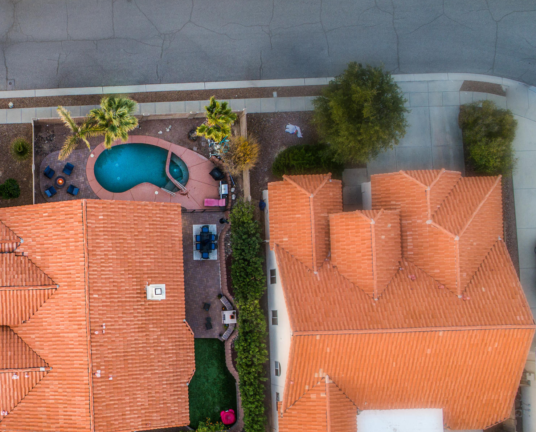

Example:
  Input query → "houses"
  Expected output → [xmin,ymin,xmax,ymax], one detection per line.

[0,198,198,432]
[262,167,536,432]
